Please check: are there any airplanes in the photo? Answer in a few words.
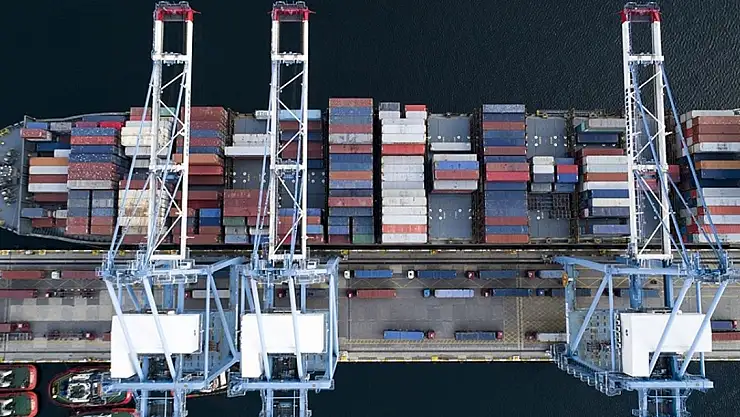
No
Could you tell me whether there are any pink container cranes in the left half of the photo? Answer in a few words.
No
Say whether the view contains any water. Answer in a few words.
Yes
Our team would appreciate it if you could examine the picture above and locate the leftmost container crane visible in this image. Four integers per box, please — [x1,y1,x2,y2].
[99,2,253,417]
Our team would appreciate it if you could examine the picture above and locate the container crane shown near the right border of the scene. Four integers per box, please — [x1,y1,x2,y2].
[546,2,735,417]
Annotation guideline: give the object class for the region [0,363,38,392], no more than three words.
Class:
boat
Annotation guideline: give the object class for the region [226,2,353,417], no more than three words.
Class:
container crane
